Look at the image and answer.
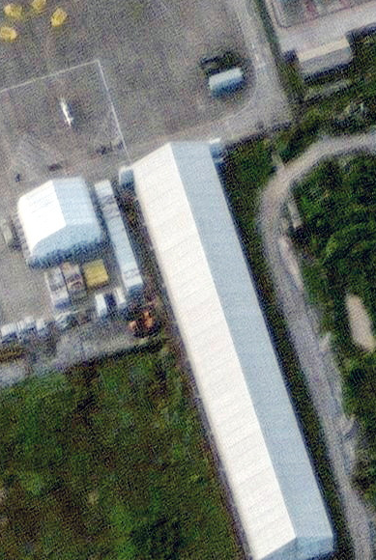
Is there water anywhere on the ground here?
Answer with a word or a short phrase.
No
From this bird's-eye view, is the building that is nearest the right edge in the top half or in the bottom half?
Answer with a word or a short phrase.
top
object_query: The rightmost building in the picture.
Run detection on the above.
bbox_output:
[296,39,354,79]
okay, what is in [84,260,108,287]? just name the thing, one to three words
shed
